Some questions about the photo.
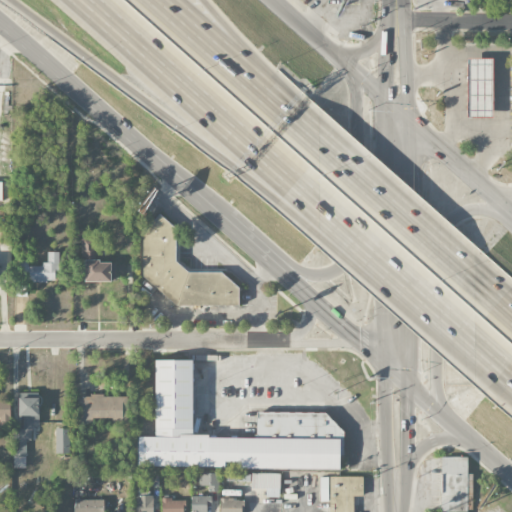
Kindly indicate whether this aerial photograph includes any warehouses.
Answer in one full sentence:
Yes, this view includes a warehouse.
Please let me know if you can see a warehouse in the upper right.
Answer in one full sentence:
No, no warehouse appears in the upper right.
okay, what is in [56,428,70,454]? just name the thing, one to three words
shed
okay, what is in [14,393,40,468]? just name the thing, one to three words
house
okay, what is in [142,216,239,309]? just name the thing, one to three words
building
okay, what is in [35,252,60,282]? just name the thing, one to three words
house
